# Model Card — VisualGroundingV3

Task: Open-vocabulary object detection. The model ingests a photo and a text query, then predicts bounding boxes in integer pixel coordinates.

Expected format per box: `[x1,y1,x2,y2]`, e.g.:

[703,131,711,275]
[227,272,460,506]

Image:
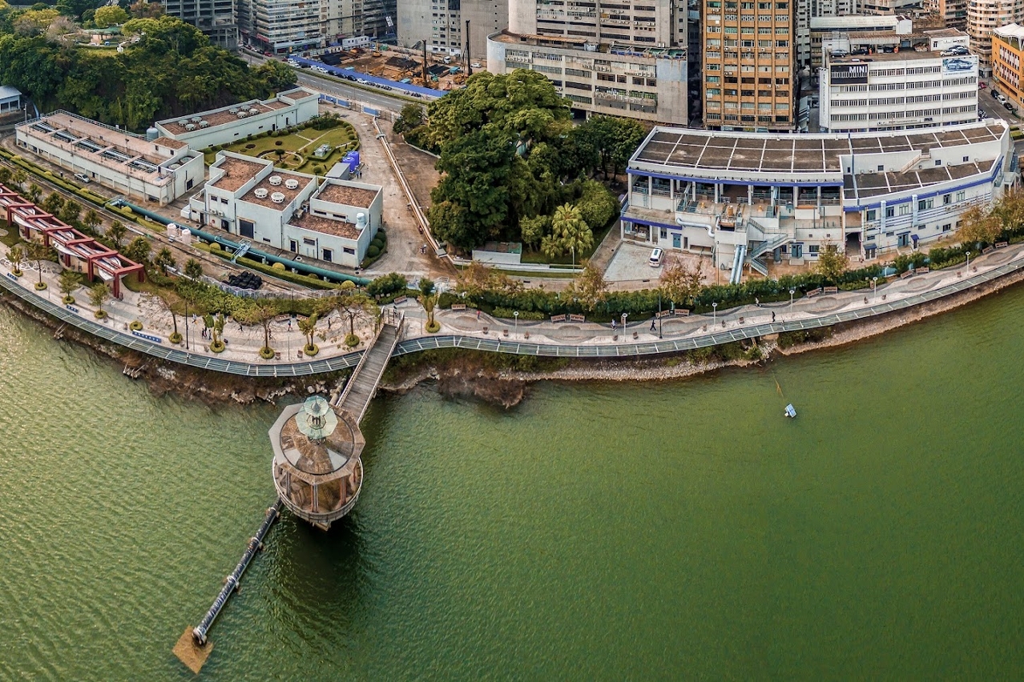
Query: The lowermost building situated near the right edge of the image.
[619,119,1024,278]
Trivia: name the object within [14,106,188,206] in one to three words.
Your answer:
building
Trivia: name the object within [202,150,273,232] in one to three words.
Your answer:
building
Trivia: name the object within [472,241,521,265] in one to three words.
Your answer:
shed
